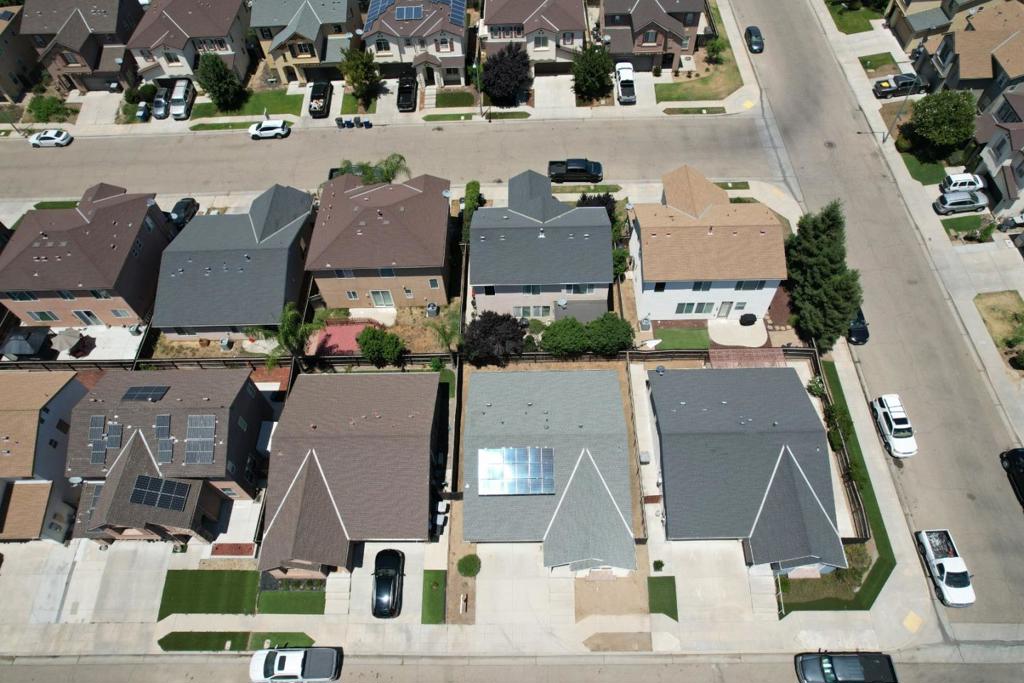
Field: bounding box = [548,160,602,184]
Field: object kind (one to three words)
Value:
truck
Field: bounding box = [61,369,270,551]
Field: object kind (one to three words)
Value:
house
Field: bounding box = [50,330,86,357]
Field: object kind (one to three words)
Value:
umbrella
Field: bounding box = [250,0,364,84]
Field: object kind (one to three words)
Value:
house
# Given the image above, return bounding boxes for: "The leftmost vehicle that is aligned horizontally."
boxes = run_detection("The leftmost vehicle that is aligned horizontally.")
[29,131,74,150]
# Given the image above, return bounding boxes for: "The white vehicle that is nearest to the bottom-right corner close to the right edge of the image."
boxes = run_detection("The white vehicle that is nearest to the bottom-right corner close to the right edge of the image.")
[916,529,973,611]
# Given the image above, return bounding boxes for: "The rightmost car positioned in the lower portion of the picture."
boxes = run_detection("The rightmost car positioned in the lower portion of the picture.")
[996,449,1024,509]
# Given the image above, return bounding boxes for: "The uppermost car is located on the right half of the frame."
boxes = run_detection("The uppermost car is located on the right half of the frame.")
[742,28,765,54]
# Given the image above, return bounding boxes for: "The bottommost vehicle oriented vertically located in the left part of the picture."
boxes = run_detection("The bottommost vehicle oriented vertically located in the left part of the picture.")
[371,550,405,620]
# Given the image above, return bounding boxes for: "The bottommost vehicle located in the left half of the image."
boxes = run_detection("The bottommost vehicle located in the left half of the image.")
[254,646,344,683]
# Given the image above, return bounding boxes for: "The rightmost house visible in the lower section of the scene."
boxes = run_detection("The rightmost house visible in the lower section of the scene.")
[645,365,848,584]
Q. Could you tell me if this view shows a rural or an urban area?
urban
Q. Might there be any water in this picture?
No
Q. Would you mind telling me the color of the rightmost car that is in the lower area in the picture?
black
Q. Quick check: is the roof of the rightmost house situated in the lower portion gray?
Yes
